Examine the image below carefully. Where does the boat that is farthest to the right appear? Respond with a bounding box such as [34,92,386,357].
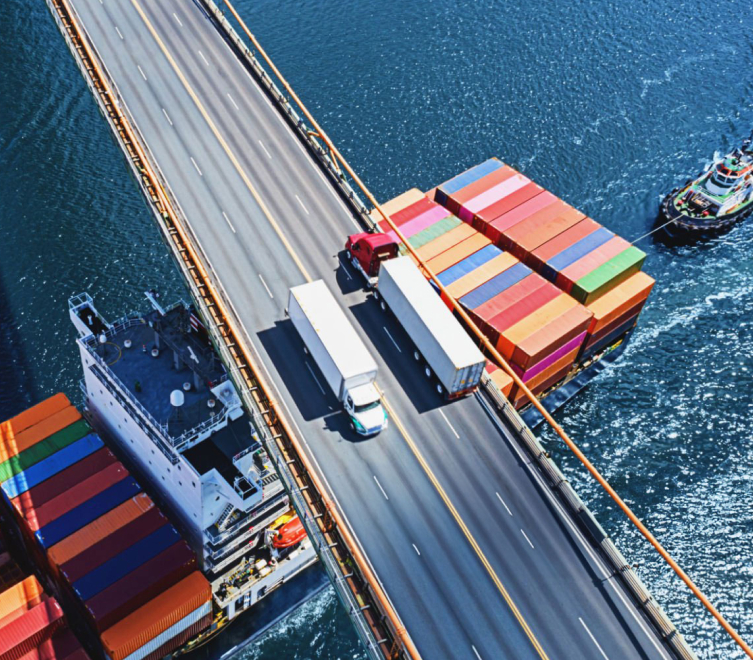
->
[652,123,753,239]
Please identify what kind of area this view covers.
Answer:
port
